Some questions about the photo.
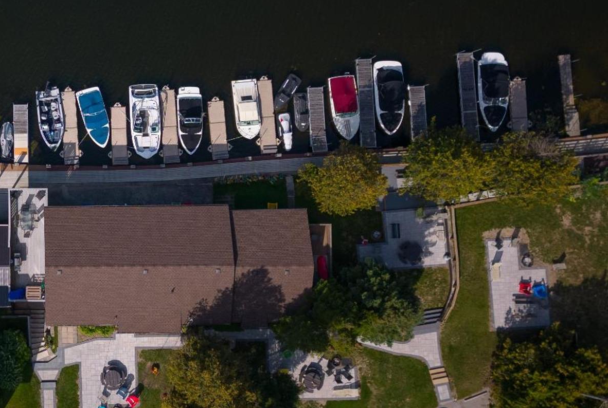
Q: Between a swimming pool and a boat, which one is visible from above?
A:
boat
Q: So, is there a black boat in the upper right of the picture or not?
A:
Yes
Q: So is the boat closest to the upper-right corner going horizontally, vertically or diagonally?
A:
vertically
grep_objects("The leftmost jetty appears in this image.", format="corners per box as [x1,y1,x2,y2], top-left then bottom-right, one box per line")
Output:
[12,103,29,162]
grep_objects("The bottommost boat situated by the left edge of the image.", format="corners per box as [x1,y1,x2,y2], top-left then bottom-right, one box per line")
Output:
[1,123,13,158]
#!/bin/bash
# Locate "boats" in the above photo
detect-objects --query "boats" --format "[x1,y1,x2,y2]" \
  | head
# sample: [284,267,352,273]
[329,70,361,140]
[232,78,260,140]
[75,87,110,148]
[278,114,292,151]
[294,93,309,132]
[172,87,203,155]
[477,52,509,133]
[373,60,404,135]
[1,123,13,158]
[35,84,64,154]
[275,72,298,110]
[129,83,161,159]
